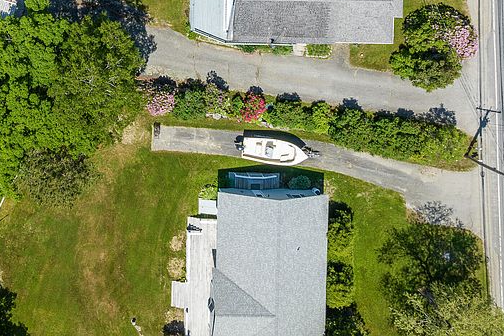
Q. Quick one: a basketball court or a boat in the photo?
boat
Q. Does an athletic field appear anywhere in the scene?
No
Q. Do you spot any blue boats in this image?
No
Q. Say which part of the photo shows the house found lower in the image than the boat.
bottom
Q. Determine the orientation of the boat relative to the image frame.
from left to right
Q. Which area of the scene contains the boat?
center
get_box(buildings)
[170,173,330,336]
[186,0,404,44]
